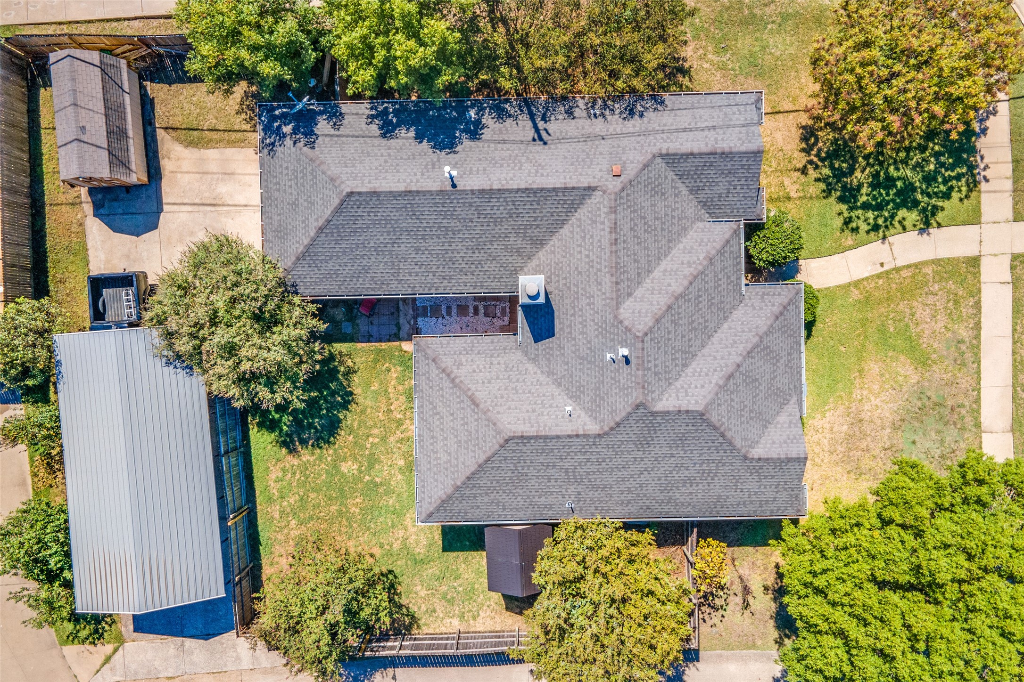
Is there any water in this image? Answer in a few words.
No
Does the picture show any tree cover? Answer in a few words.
Yes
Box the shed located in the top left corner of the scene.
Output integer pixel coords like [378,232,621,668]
[50,49,149,191]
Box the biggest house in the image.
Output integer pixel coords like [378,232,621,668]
[258,91,808,525]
